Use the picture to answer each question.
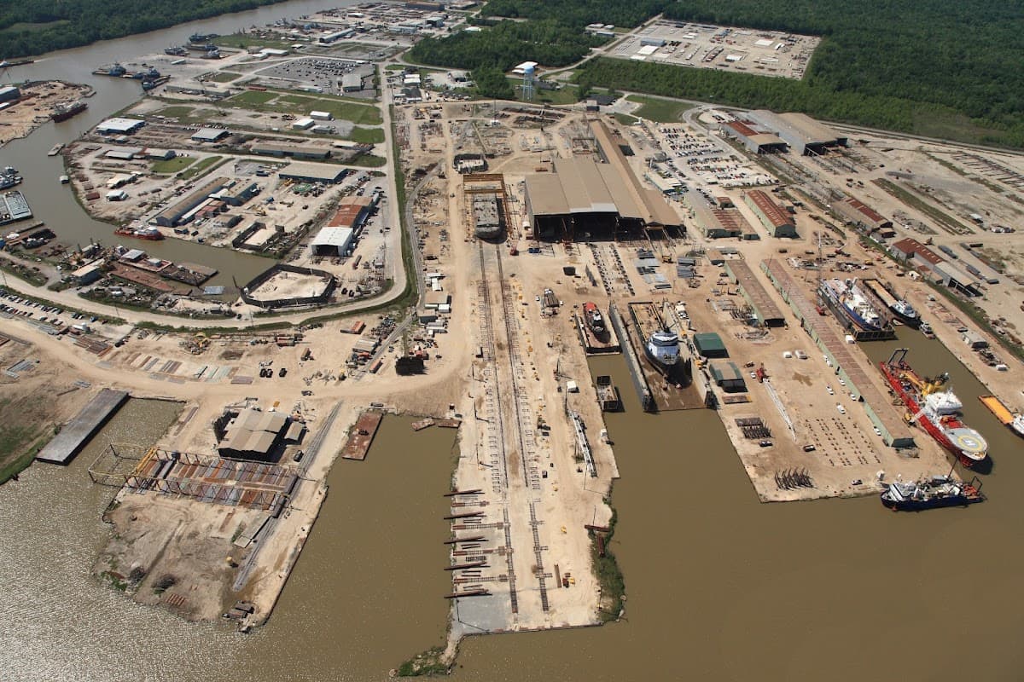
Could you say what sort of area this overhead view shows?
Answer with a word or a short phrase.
port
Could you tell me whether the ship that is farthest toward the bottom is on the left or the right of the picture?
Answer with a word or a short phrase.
right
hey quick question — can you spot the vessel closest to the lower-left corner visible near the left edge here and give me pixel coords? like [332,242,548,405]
[34,390,129,467]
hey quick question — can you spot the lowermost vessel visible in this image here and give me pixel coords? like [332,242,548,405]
[880,445,992,510]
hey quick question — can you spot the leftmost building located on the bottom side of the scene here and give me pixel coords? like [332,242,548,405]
[219,410,289,467]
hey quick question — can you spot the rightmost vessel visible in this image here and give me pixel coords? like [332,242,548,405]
[977,395,1024,456]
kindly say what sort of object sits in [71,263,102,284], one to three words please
shed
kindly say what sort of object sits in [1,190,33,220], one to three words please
ship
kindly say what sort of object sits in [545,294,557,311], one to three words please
vehicle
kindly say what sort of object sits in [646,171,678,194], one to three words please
building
